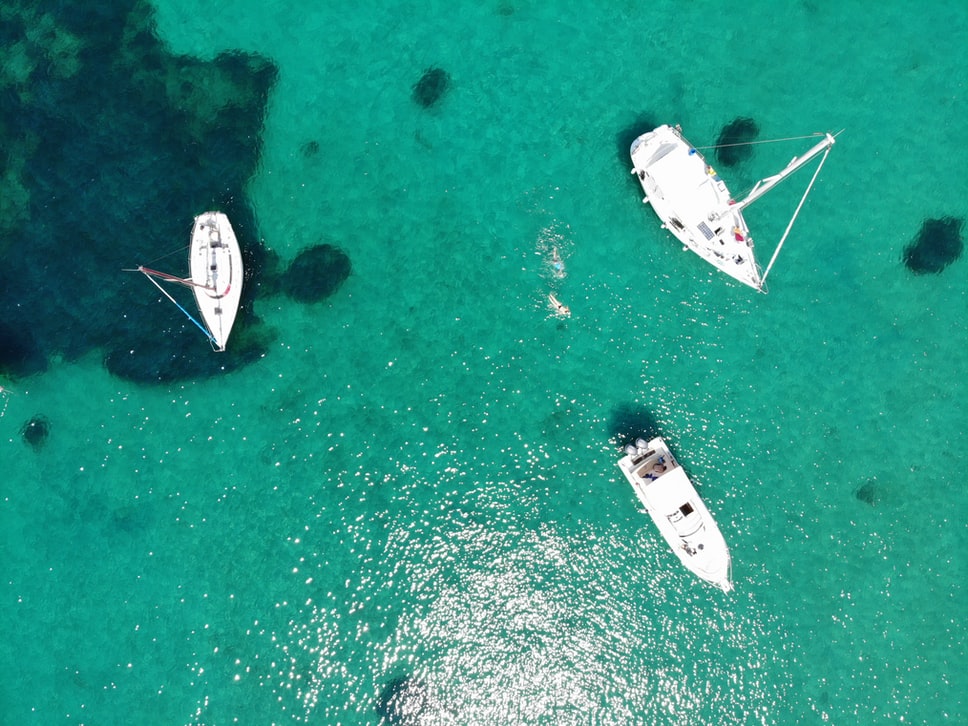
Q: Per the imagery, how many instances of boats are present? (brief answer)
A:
3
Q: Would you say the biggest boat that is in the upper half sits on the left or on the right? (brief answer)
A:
right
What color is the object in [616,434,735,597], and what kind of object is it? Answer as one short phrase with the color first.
white boat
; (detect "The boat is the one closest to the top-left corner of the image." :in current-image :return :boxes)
[123,211,244,354]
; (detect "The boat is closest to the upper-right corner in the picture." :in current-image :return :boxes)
[628,117,841,298]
